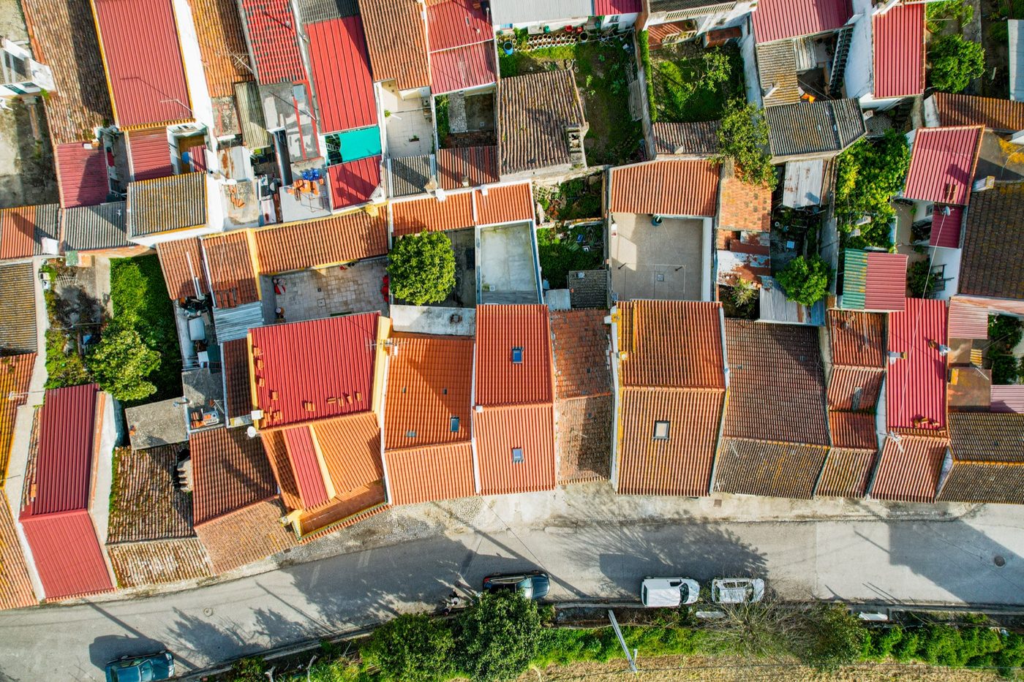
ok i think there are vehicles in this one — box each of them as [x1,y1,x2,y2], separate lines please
[107,645,181,682]
[638,575,698,608]
[482,569,551,603]
[709,573,764,604]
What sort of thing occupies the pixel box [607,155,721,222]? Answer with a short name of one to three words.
building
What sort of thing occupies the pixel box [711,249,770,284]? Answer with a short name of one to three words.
building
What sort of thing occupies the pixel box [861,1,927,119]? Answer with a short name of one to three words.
house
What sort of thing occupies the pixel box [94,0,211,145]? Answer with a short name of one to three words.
house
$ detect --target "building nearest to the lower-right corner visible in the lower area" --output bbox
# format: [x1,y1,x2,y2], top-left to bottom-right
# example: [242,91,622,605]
[933,410,1024,507]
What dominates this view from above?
buildings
